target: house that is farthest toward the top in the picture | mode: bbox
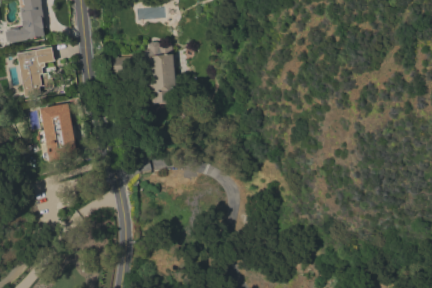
[4,0,44,44]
